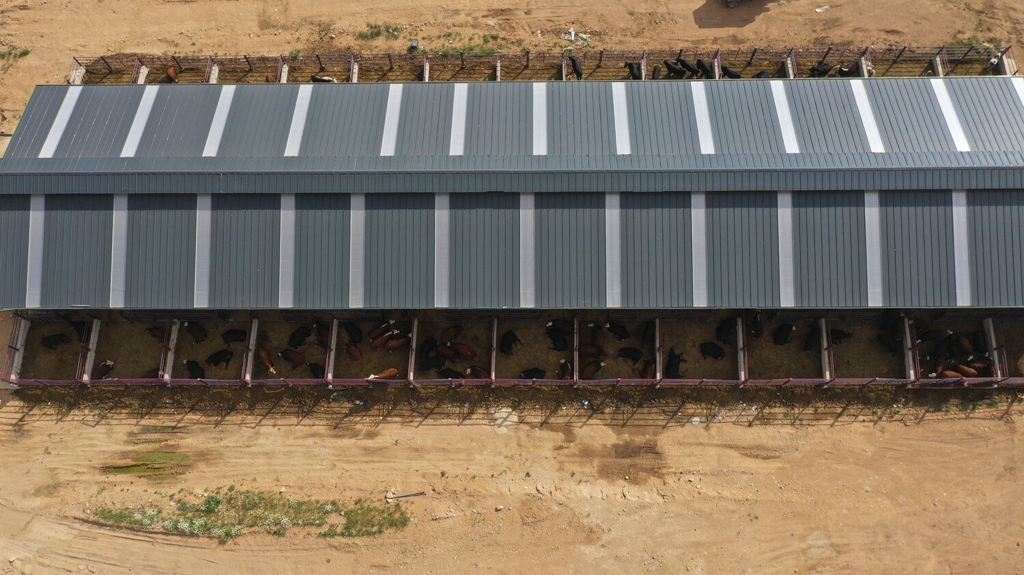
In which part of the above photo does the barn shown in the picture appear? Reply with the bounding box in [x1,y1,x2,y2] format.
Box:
[0,74,1024,320]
